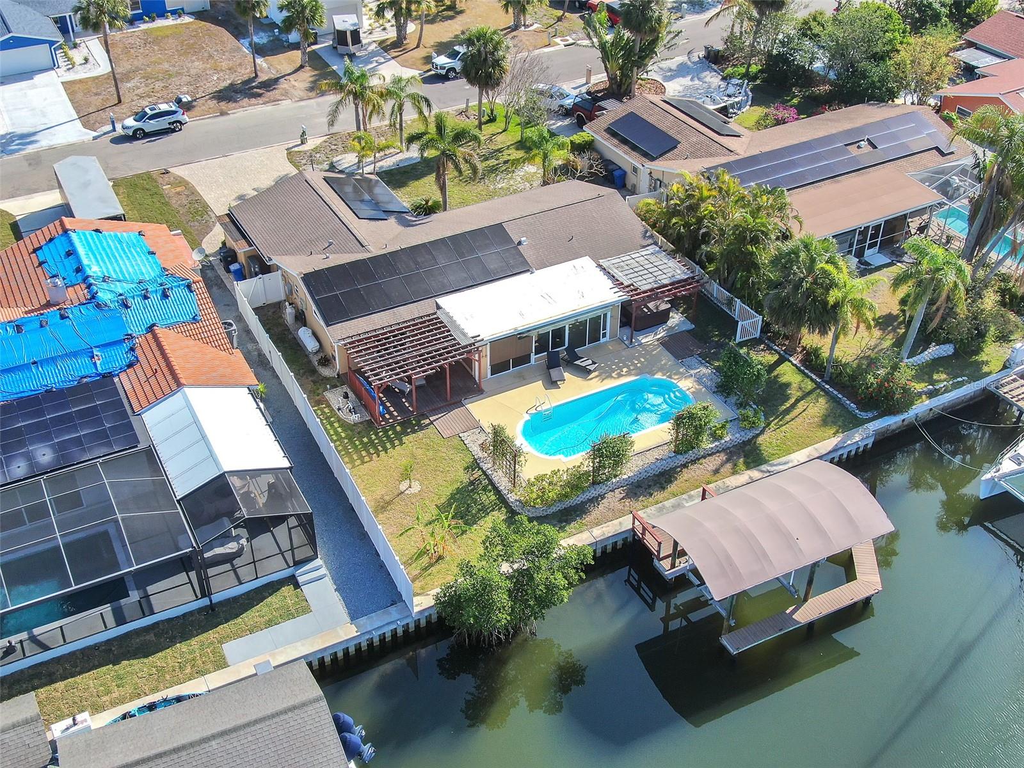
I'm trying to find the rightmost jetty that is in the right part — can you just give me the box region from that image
[987,370,1024,427]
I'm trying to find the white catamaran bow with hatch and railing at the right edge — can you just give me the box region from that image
[980,433,1024,494]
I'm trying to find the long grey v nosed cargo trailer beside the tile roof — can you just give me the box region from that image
[53,157,127,220]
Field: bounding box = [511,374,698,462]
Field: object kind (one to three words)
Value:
swimming pool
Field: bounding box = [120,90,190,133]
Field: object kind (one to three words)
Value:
car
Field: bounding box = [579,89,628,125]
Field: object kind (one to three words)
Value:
truck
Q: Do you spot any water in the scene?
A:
Yes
